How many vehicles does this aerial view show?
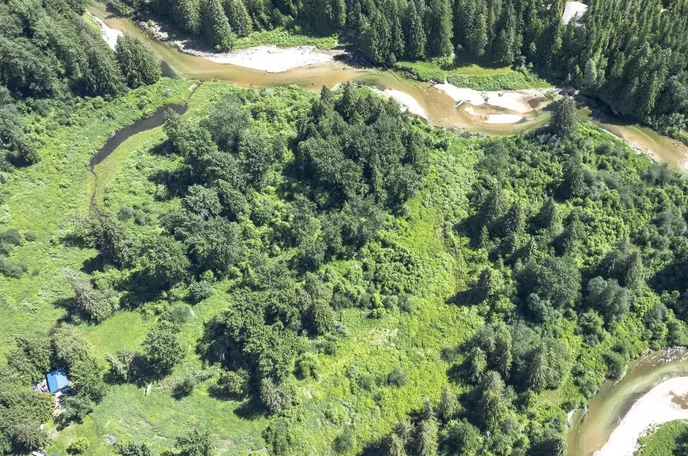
0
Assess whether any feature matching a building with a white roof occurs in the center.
No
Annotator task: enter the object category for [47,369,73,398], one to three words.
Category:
shed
